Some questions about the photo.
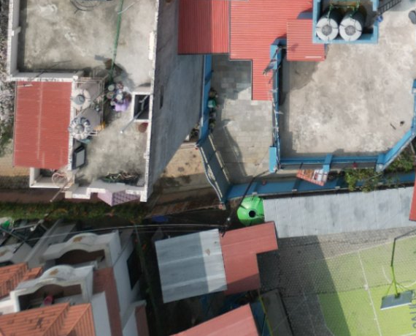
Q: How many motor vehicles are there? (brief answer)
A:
0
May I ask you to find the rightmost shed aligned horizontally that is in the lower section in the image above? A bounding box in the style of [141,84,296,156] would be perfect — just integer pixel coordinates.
[262,184,412,236]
